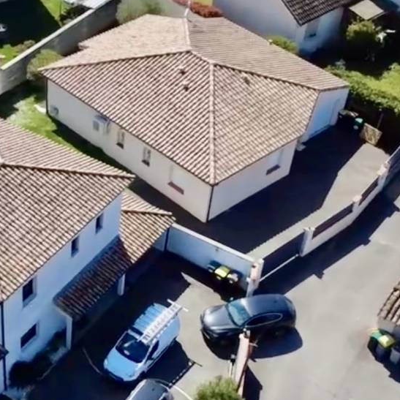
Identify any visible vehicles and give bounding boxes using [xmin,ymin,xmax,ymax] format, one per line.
[106,307,178,393]
[127,379,175,400]
[198,297,296,346]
